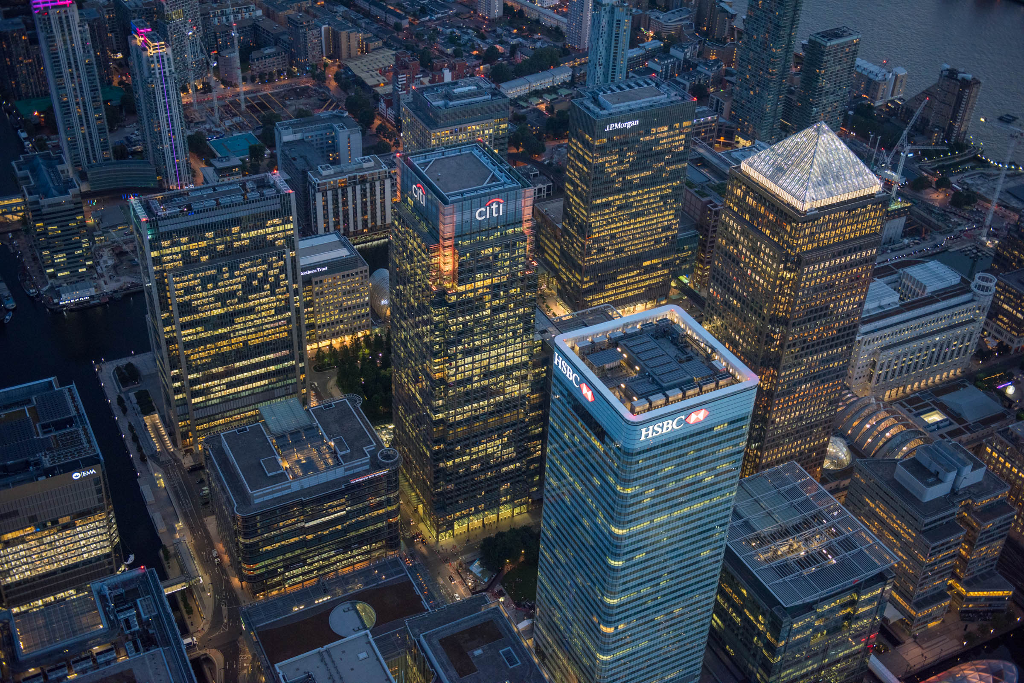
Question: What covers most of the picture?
buildings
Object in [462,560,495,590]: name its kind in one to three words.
tent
